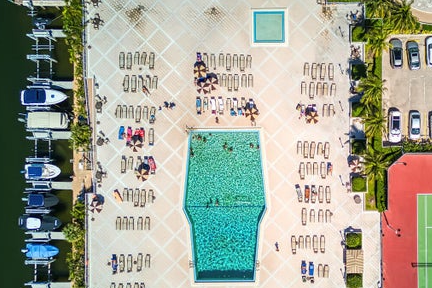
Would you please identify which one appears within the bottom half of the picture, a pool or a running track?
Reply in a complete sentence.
It is a pool that can be seen within the bottom half of the picture.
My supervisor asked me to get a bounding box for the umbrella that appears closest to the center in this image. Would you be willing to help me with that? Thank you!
[244,107,259,121]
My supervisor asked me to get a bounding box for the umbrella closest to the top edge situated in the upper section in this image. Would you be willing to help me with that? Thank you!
[193,64,207,77]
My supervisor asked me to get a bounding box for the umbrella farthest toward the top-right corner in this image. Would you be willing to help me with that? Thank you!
[305,112,320,126]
